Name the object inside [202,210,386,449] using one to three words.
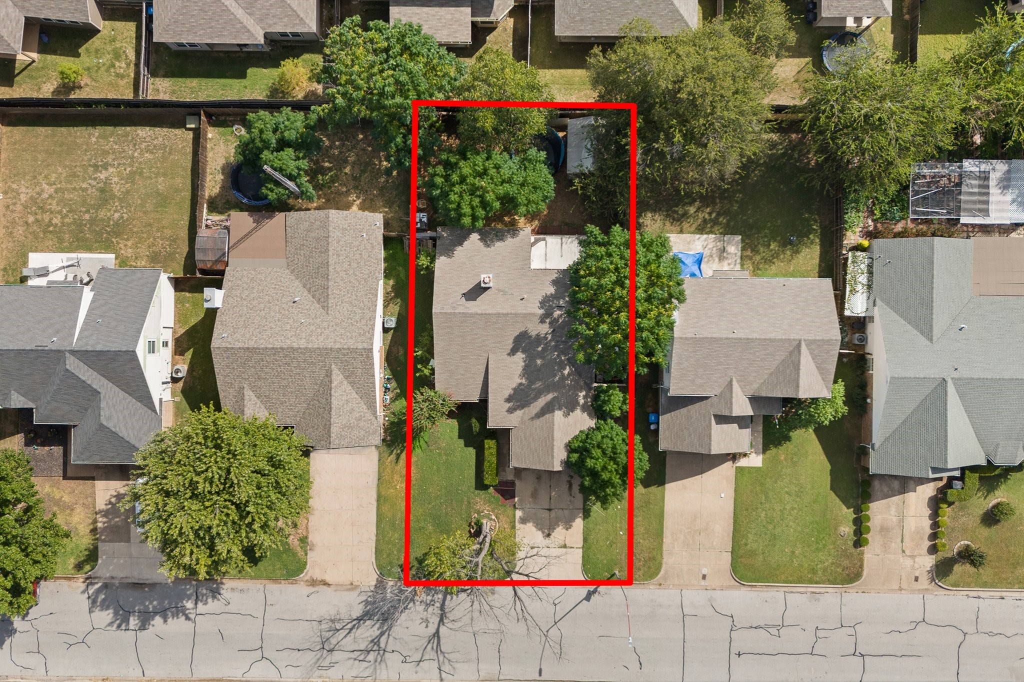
house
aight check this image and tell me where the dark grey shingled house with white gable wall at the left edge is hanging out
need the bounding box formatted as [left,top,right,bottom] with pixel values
[0,267,175,466]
